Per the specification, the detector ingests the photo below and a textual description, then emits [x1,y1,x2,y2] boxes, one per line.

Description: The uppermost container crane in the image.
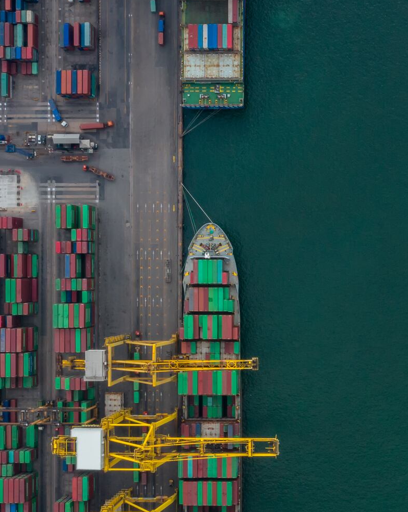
[60,328,259,389]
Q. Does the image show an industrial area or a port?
port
